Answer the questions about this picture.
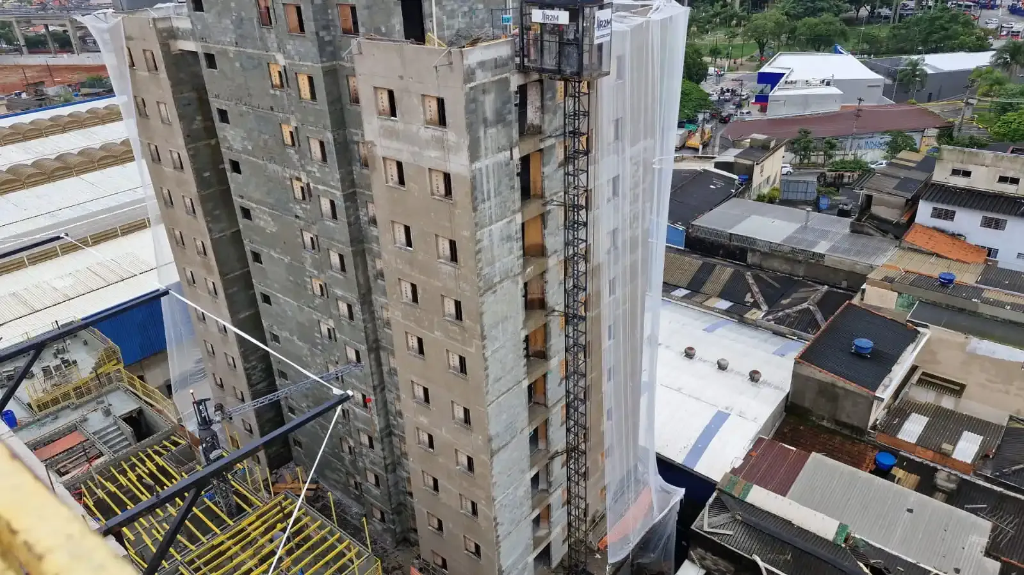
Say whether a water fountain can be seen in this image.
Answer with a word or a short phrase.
No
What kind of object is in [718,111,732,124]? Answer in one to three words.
vehicle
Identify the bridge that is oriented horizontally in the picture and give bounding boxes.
[0,3,124,53]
